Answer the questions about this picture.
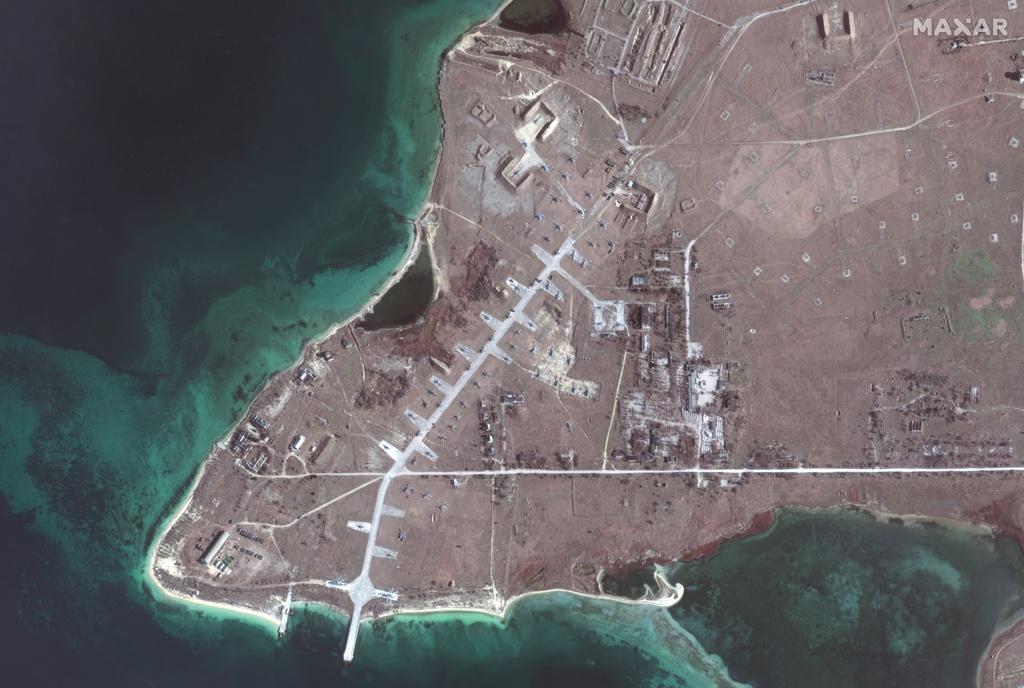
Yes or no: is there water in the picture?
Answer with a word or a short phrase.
Yes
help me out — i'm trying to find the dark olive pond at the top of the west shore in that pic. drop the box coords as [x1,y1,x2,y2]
[496,0,569,34]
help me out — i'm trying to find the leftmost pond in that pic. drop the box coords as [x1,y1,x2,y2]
[357,242,436,330]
